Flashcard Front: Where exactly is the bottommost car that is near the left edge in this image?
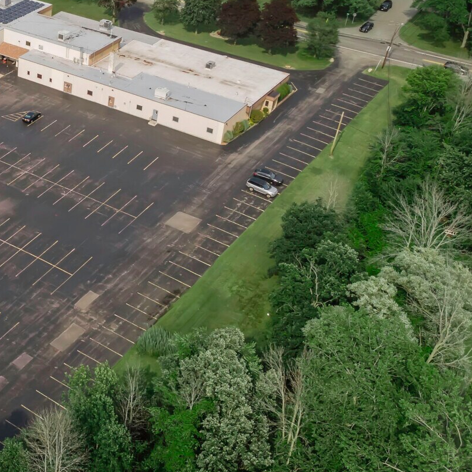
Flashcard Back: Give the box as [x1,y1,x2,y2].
[19,107,40,123]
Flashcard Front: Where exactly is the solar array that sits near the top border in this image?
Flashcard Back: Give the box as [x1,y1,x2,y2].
[0,0,44,23]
